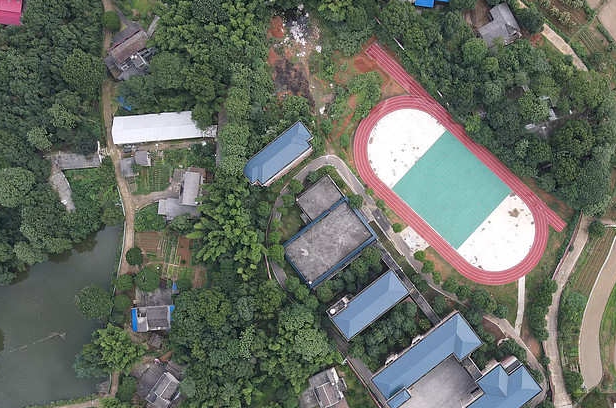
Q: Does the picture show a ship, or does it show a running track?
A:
running track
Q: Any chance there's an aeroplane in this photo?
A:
No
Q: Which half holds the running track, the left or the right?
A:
right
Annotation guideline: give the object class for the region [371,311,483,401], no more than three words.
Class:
building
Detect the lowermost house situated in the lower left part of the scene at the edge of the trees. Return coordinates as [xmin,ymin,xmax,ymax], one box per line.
[145,372,181,408]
